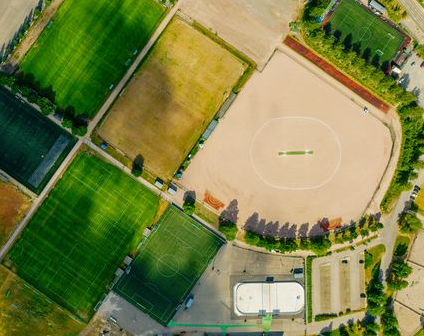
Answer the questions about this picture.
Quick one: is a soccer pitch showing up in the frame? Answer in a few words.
Yes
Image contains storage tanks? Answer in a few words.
No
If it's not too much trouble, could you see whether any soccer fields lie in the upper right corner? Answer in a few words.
Yes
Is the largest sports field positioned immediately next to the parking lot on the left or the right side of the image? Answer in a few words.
right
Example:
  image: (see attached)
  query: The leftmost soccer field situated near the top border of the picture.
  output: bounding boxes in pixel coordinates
[20,0,165,119]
